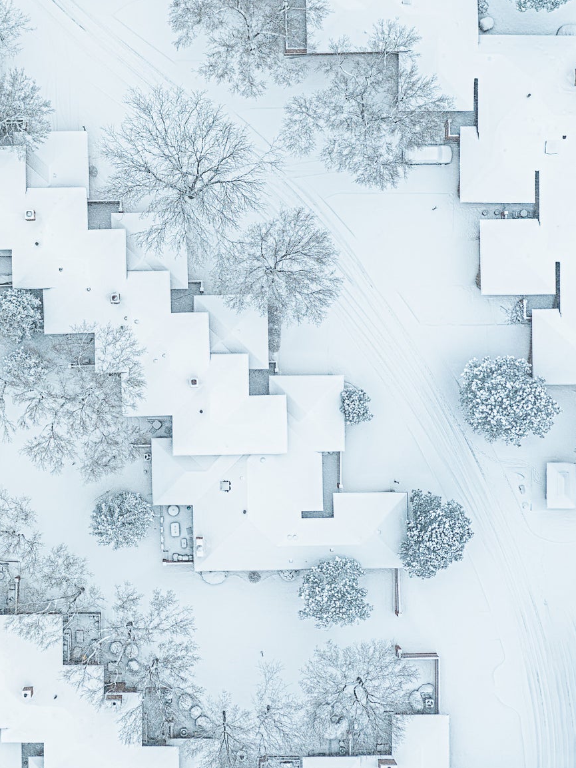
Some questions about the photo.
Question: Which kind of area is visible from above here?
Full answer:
This image shows a residential area.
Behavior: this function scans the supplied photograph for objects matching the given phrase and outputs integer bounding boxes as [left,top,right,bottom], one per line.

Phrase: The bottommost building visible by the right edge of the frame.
[544,463,576,508]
